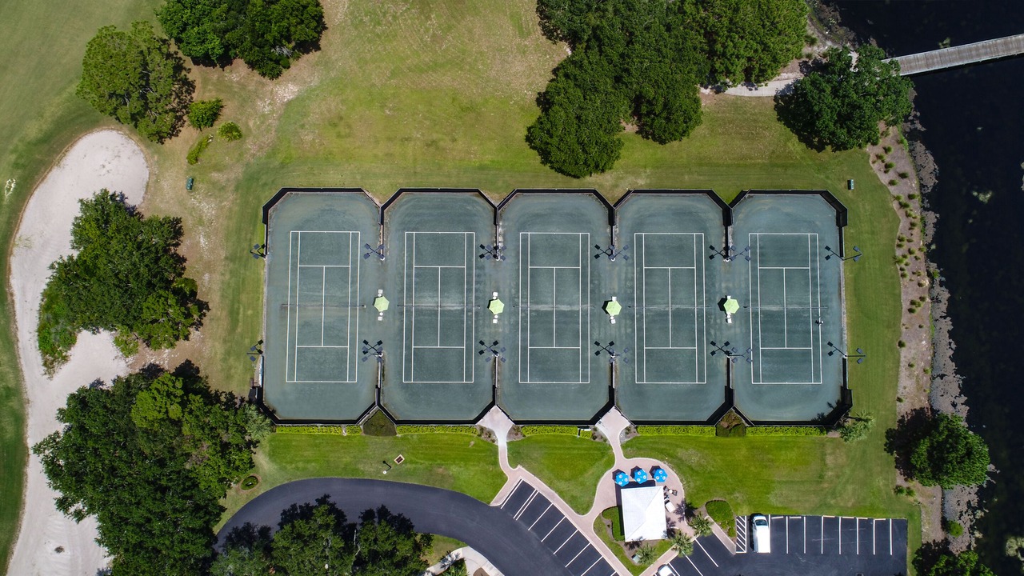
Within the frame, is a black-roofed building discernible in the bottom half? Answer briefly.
No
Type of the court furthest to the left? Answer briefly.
tennis court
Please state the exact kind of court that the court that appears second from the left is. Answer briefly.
tennis court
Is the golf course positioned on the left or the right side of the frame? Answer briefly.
left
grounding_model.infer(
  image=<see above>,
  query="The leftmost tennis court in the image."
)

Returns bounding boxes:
[263,191,382,422]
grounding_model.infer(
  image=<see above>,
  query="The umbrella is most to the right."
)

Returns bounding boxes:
[722,298,738,314]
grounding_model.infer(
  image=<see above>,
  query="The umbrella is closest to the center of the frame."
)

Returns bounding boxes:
[489,299,504,314]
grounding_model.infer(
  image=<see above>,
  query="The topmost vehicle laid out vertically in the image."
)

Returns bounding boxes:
[753,516,770,554]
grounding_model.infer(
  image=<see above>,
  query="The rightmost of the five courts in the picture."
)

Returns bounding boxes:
[726,194,846,425]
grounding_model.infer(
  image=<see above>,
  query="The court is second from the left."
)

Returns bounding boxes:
[380,192,497,423]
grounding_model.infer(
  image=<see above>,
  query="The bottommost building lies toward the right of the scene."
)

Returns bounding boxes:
[621,486,667,542]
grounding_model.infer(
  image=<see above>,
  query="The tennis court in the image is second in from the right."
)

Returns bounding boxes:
[612,193,729,424]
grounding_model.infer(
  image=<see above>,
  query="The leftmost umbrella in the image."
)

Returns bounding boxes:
[374,297,389,312]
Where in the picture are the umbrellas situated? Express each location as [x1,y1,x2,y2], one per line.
[722,298,738,314]
[634,470,647,483]
[606,300,621,316]
[489,299,504,314]
[654,470,667,482]
[616,472,629,486]
[374,297,389,312]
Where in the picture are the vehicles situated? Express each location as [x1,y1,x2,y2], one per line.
[753,516,770,554]
[664,499,677,514]
[660,563,679,576]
